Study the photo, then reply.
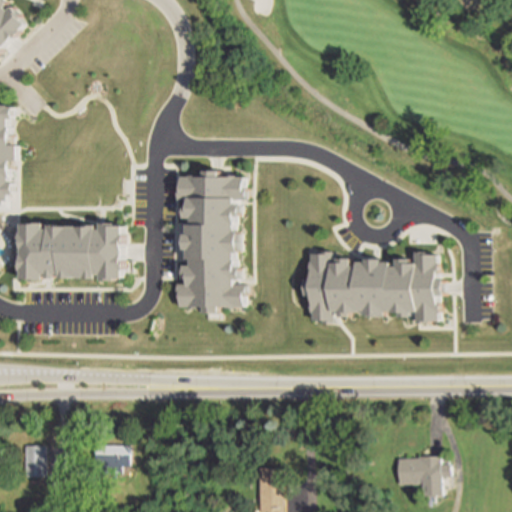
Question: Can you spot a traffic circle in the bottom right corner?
No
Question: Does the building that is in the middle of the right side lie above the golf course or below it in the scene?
below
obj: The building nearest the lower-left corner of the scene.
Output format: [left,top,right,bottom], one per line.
[25,446,48,478]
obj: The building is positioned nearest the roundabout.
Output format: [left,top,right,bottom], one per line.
[304,251,446,328]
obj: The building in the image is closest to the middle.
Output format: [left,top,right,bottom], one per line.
[174,171,252,314]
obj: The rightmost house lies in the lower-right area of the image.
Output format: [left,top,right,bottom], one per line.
[396,457,452,506]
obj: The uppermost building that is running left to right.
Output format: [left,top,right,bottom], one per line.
[14,223,136,280]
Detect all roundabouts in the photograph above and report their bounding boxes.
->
[362,198,393,228]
